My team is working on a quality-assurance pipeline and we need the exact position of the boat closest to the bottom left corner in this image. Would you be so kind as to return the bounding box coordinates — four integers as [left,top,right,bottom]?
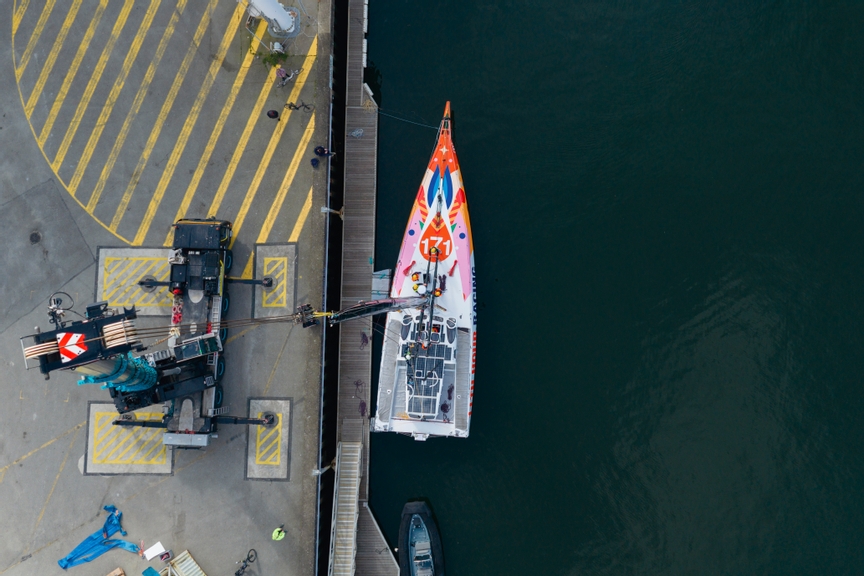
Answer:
[398,500,445,576]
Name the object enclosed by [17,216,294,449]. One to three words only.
crane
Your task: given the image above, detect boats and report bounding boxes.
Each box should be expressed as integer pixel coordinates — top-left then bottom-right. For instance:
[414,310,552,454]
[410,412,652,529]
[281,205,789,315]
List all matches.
[377,100,477,441]
[398,500,445,576]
